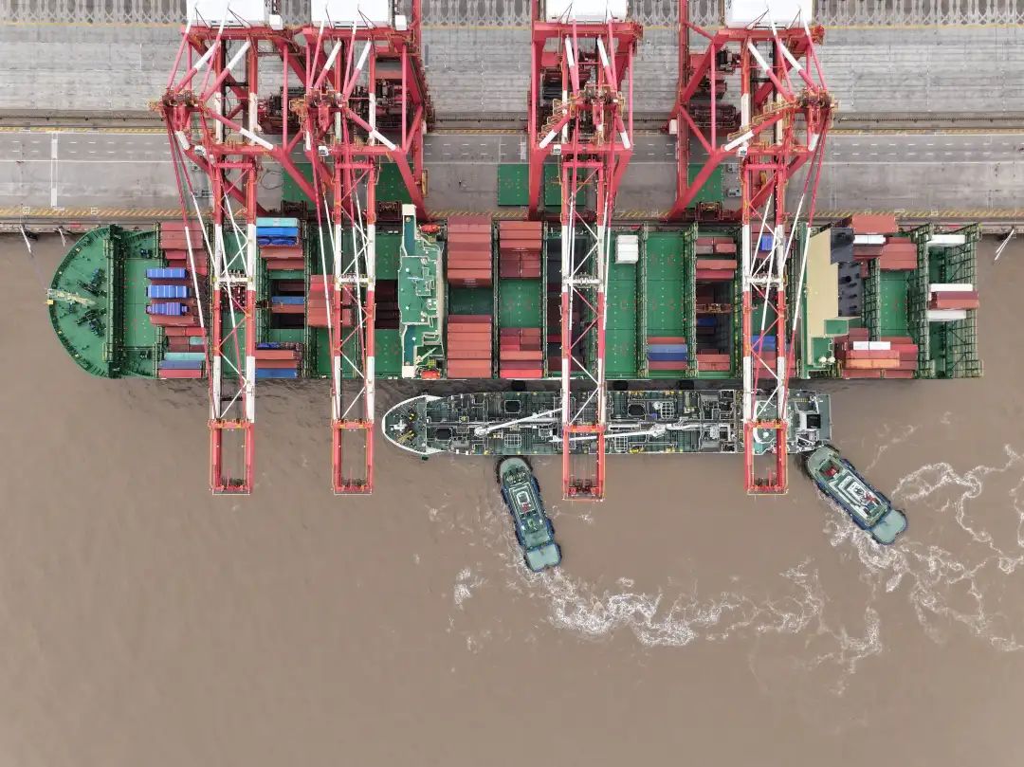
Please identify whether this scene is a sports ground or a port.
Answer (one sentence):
What you see here is a port.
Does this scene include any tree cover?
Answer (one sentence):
No, the picture contains no tree cover.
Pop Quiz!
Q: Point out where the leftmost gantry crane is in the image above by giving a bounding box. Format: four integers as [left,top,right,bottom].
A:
[139,0,351,500]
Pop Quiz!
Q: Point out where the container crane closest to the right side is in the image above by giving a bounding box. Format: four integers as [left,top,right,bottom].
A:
[649,0,846,500]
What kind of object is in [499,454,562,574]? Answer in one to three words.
boat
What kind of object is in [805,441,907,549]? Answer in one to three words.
boat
